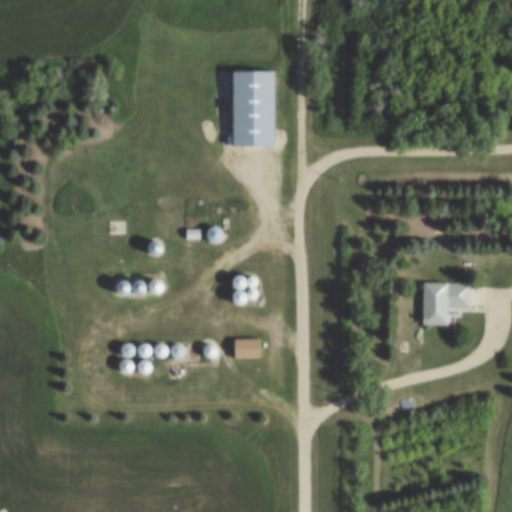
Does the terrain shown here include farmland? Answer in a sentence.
Yes, farmland can be seen from above here.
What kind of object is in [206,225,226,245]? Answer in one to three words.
silo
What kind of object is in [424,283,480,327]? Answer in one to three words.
house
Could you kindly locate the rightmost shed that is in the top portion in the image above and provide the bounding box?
[232,69,276,146]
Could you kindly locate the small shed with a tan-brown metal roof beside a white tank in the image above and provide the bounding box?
[234,340,262,360]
